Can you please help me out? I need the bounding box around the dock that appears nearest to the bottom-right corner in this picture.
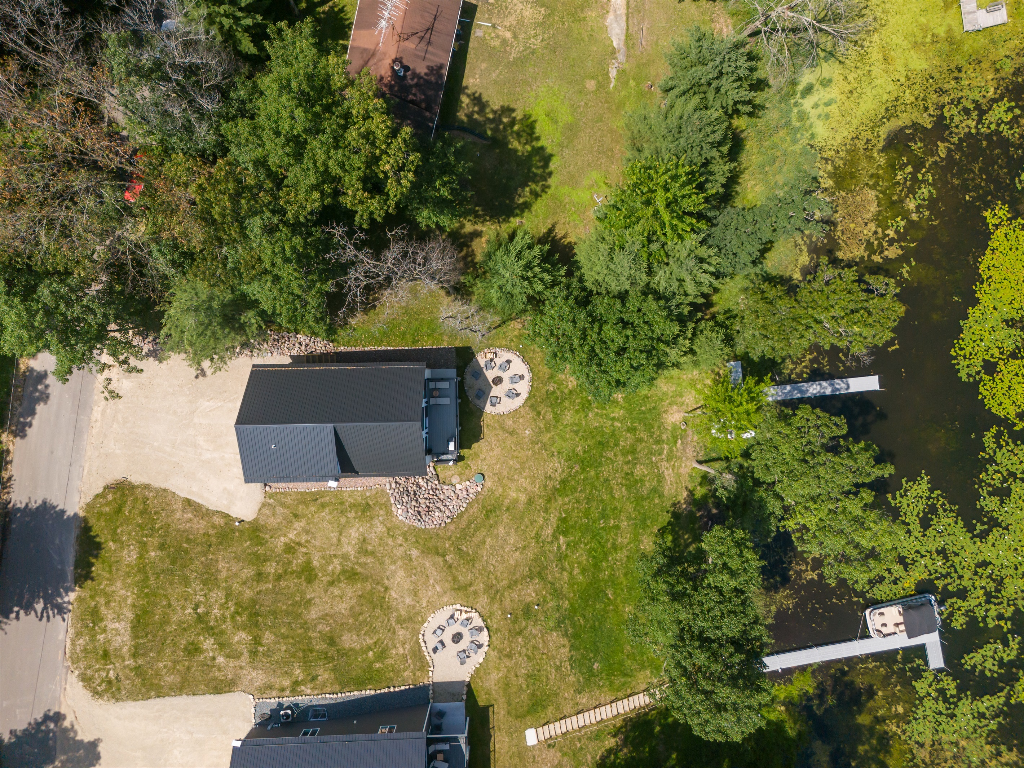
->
[759,630,950,673]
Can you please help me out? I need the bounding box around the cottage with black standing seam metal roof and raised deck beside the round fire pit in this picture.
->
[233,361,463,489]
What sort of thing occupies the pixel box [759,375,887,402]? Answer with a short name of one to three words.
pier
